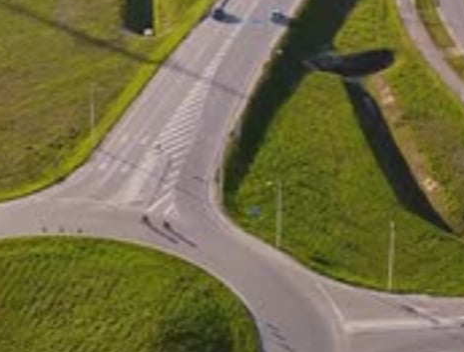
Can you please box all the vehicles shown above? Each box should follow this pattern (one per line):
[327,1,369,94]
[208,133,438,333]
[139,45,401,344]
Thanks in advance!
[271,9,285,20]
[212,7,227,19]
